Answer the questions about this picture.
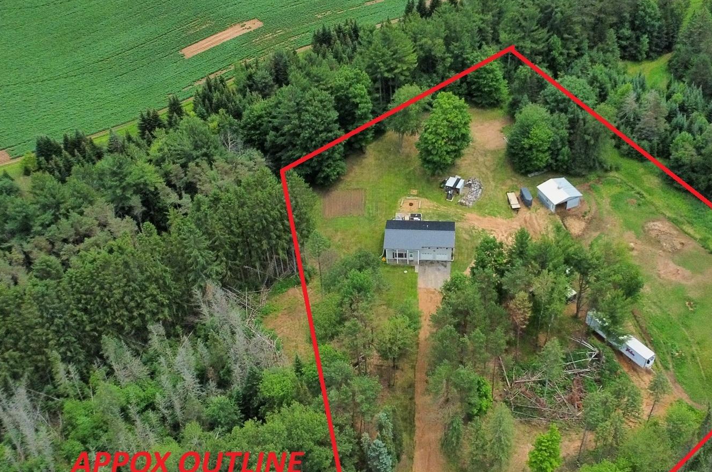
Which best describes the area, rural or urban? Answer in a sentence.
The land in this view is best described as rural.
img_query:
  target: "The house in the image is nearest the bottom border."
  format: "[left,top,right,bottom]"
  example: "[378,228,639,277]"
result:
[384,219,454,265]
